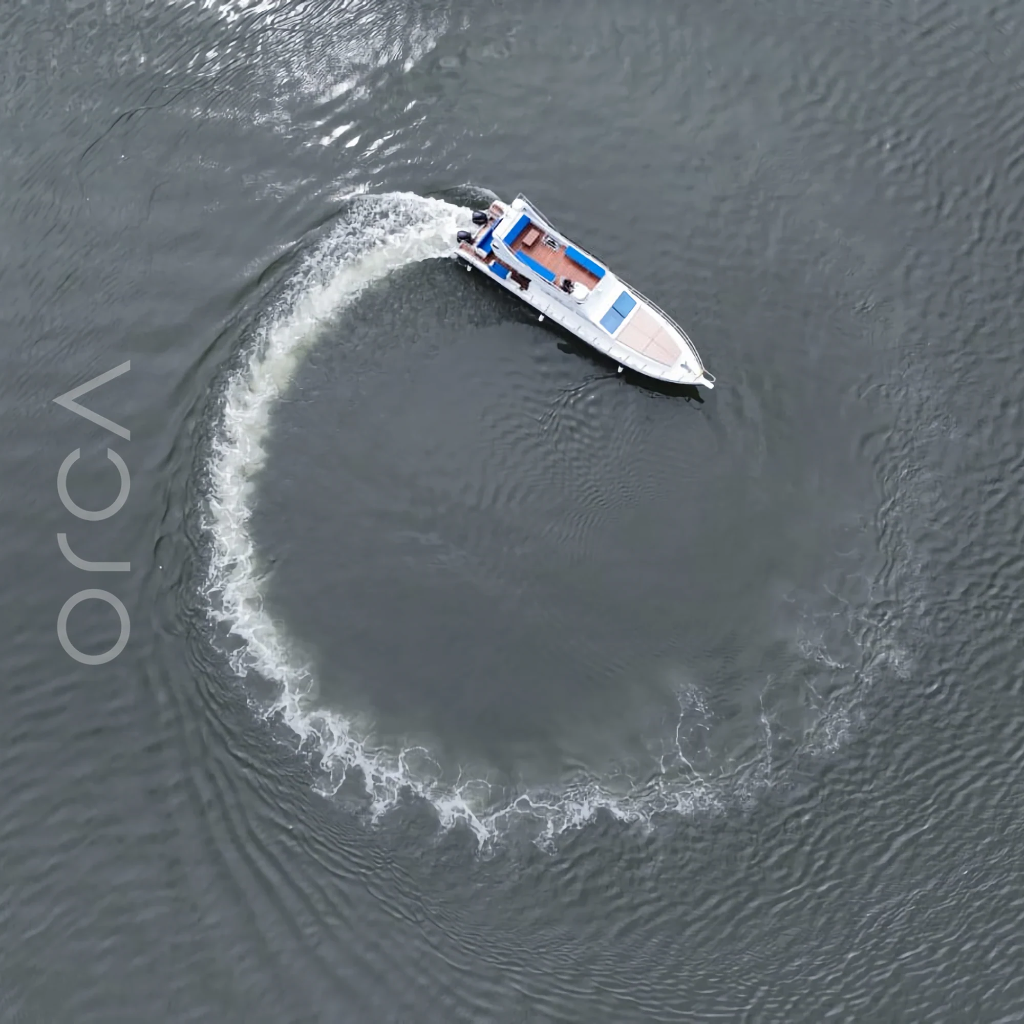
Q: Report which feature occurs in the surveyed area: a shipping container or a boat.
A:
boat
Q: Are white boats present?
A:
Yes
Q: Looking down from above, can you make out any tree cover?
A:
No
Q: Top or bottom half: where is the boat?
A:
top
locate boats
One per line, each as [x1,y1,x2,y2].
[455,191,720,389]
